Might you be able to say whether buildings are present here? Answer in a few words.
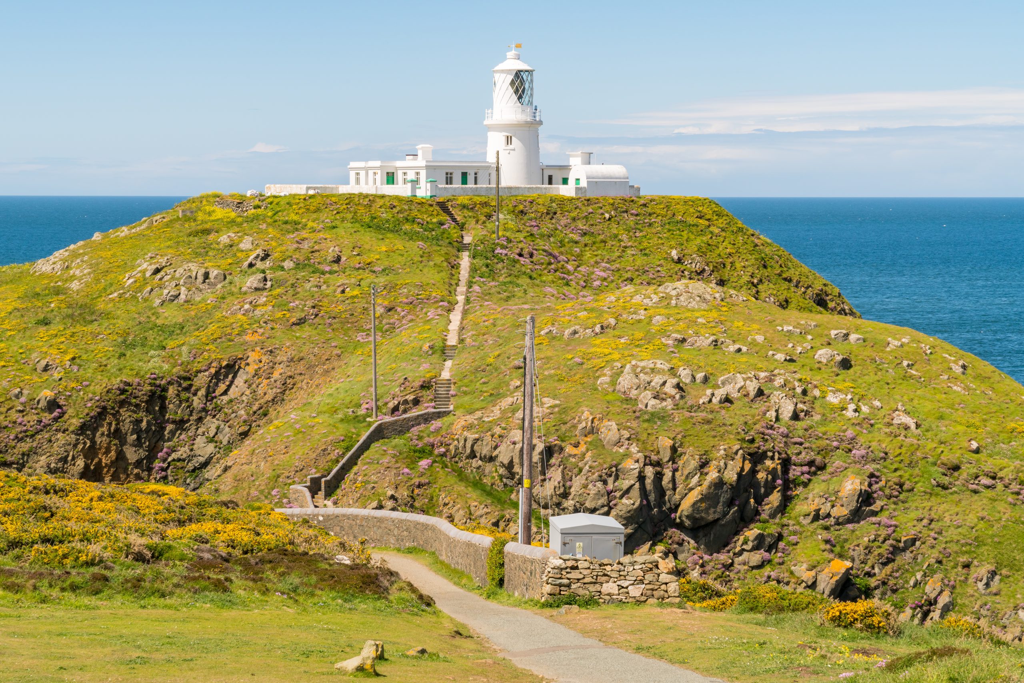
Yes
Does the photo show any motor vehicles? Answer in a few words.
No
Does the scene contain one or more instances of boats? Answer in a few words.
No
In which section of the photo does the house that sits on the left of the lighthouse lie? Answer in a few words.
top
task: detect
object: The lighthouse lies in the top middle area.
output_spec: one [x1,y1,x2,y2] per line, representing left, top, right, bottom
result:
[484,43,544,185]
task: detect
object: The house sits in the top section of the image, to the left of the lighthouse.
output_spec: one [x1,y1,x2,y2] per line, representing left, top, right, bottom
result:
[346,144,497,191]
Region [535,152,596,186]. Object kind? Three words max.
building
